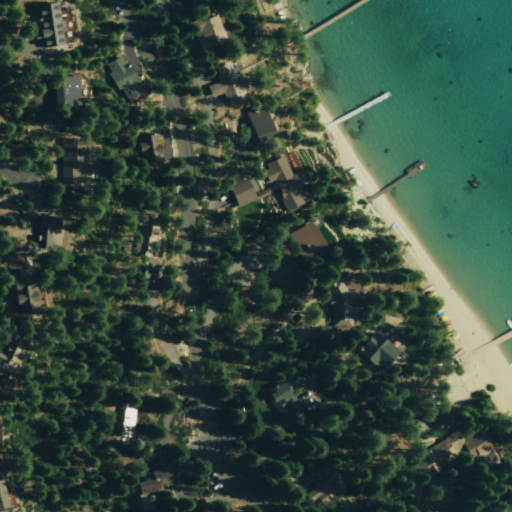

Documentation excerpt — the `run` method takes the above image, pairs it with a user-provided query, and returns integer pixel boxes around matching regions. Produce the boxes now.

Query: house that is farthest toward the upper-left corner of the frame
[38,1,78,50]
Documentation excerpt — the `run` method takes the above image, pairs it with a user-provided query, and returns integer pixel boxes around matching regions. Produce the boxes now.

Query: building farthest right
[464,438,502,464]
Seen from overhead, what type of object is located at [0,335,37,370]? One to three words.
house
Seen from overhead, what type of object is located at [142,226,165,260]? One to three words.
house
